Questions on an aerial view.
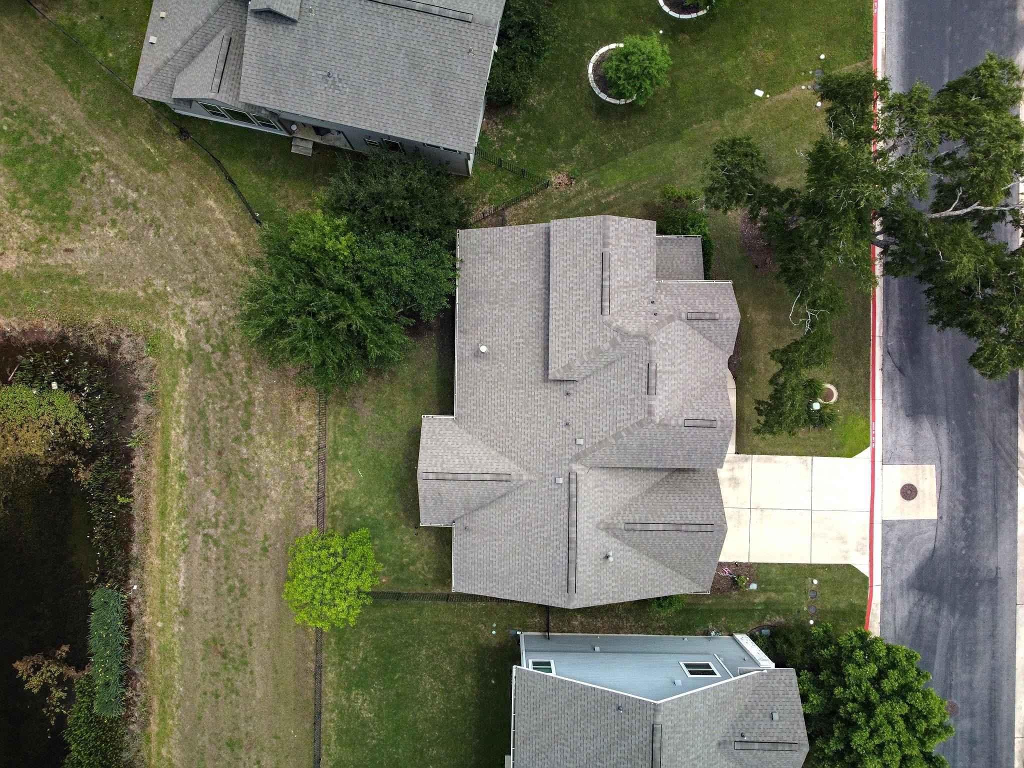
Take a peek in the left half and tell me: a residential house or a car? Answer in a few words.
residential house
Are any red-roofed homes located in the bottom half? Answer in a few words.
No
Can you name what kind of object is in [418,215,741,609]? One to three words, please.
house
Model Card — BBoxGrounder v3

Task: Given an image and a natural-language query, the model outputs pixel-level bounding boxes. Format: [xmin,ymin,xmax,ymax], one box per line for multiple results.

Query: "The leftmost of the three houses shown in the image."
[132,0,511,181]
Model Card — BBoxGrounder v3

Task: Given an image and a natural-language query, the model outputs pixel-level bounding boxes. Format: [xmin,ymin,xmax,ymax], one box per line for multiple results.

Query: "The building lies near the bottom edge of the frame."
[510,628,809,768]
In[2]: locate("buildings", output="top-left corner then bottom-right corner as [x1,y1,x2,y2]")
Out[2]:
[510,628,809,768]
[132,0,511,181]
[418,215,741,609]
